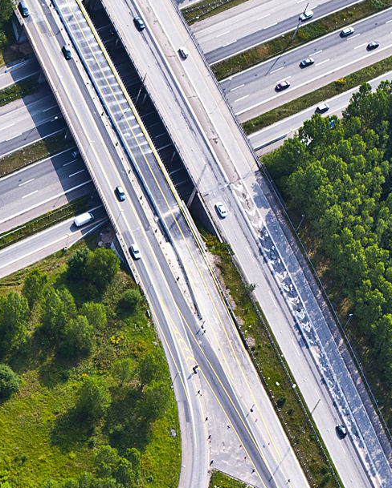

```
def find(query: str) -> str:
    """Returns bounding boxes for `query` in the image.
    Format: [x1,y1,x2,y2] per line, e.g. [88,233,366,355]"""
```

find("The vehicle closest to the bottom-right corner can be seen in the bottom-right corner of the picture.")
[334,422,347,441]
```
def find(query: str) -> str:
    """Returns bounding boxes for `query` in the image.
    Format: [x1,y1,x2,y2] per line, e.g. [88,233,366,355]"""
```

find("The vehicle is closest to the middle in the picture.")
[215,203,227,219]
